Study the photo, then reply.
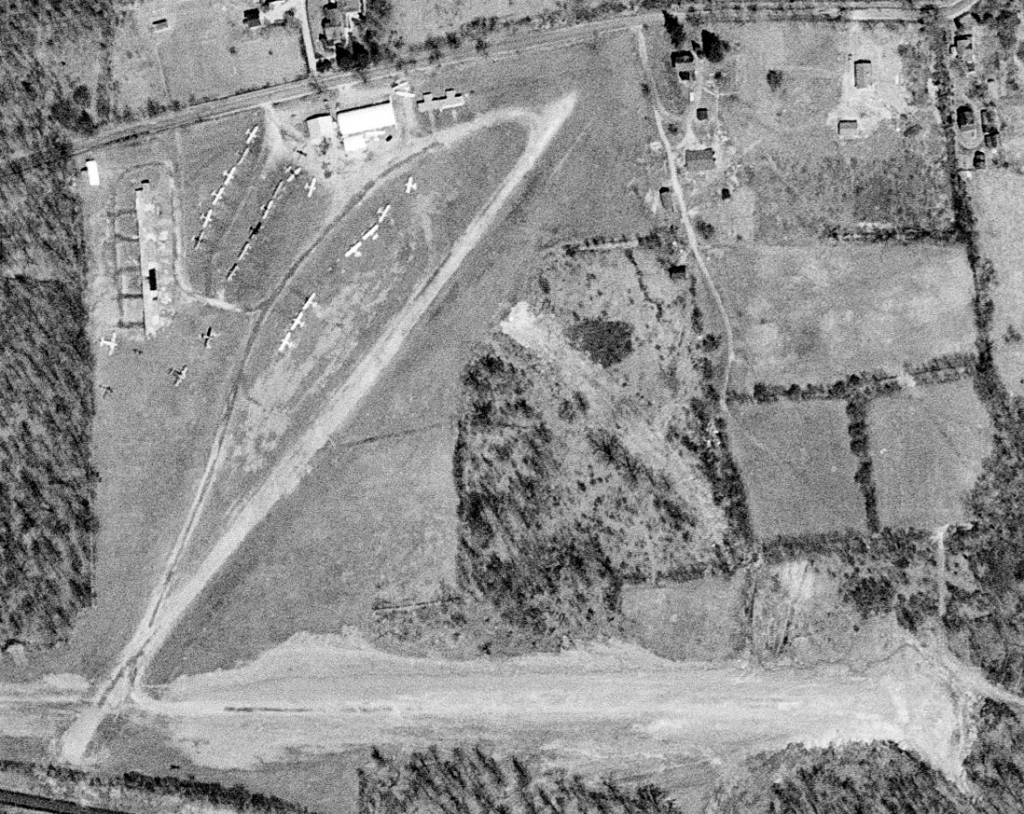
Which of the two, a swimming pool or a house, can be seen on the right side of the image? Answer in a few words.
house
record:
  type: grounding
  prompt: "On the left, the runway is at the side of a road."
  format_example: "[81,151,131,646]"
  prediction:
[62,91,576,763]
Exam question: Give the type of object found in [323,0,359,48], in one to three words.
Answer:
house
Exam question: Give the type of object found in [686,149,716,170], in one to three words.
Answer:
barn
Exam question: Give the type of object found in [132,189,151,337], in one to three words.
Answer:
shed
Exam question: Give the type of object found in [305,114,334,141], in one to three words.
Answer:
hangar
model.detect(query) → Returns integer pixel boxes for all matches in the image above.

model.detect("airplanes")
[223,167,235,184]
[304,178,316,197]
[238,243,251,260]
[279,333,293,351]
[200,328,212,346]
[405,177,417,192]
[285,165,302,181]
[296,146,306,160]
[191,232,204,249]
[302,293,317,309]
[291,312,305,330]
[200,209,212,227]
[261,201,273,218]
[377,205,390,222]
[362,225,378,239]
[245,126,258,143]
[273,181,286,198]
[100,333,116,355]
[211,188,223,204]
[345,241,361,257]
[234,148,248,164]
[227,264,240,279]
[167,366,187,386]
[99,383,111,396]
[248,222,261,237]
